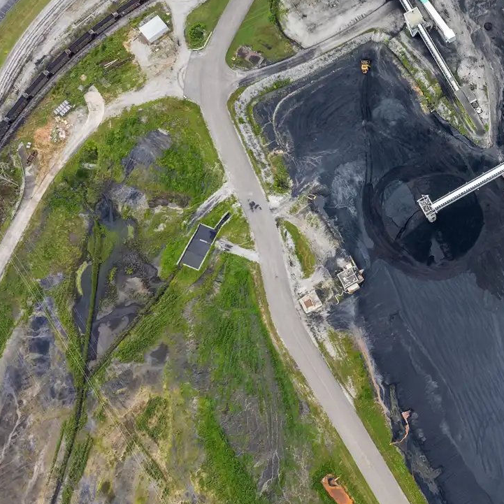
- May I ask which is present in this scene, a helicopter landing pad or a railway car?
railway car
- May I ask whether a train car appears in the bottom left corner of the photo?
No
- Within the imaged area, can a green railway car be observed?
No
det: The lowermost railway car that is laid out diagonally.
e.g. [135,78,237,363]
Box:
[0,91,25,119]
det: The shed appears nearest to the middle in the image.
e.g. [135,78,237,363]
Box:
[300,290,324,314]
